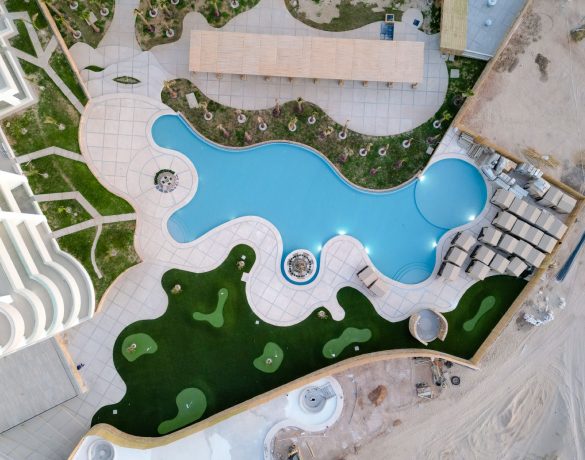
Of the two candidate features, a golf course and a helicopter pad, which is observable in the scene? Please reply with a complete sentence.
Visible in the photo is a golf course.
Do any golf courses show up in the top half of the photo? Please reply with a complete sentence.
No, no golf course appears in the top half of the photo.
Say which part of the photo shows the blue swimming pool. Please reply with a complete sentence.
Look in the center portion of the view to spot the blue swimming pool.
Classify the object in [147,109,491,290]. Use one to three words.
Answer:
swimming pool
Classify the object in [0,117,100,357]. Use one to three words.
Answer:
building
